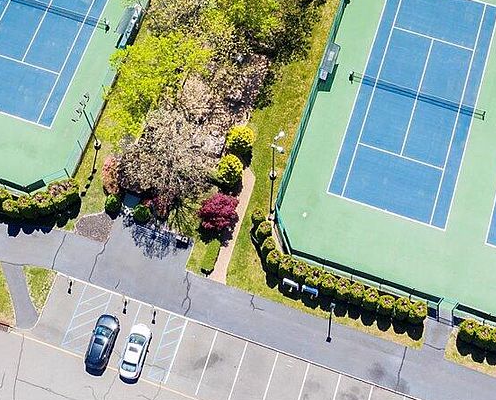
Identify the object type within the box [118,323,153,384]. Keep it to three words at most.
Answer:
car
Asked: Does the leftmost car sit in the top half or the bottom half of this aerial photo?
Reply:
bottom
